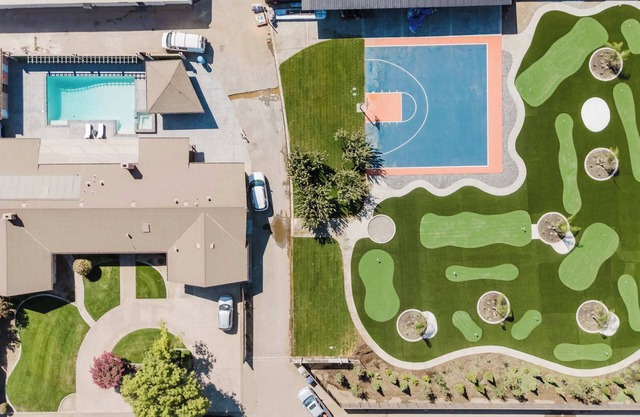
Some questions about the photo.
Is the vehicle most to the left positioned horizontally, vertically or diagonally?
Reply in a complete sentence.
In this picture, the vehicle most to the left is oriented horizontally.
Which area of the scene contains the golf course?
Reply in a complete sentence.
You can find the golf course in the right area of the picture.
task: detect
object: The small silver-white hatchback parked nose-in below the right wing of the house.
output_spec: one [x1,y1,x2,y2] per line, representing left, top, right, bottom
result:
[216,294,234,330]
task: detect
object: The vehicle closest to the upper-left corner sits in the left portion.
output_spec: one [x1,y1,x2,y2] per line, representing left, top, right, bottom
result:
[162,31,209,54]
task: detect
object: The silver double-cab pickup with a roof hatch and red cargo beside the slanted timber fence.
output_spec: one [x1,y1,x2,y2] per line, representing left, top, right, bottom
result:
[296,387,328,417]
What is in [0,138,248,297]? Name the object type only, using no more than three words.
house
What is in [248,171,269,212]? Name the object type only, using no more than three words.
car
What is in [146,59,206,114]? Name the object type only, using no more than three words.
building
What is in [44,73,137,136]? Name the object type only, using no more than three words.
swimming pool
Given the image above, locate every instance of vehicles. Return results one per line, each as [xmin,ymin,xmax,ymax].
[344,9,359,19]
[162,31,209,54]
[248,171,269,212]
[296,387,328,417]
[216,294,234,330]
